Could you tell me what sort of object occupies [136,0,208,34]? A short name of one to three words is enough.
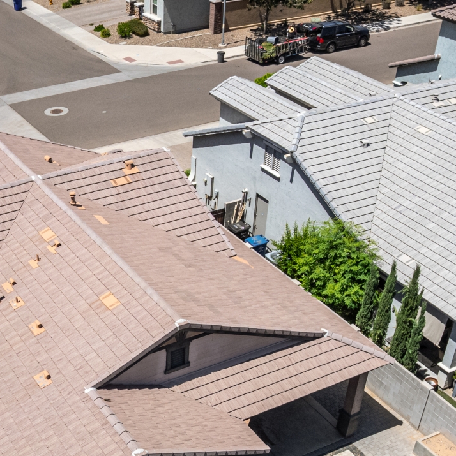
house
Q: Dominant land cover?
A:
buildings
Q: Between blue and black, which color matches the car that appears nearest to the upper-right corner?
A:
black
